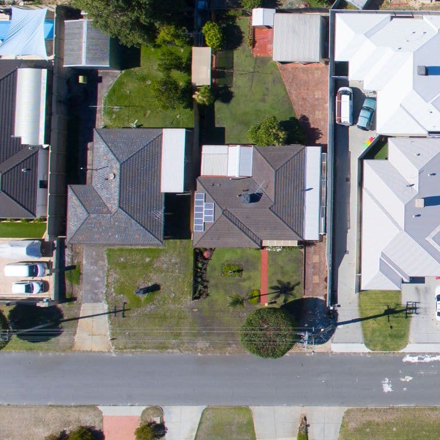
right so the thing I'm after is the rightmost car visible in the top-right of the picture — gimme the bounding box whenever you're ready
[357,96,376,131]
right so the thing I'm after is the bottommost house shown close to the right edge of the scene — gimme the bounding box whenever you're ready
[360,137,440,291]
